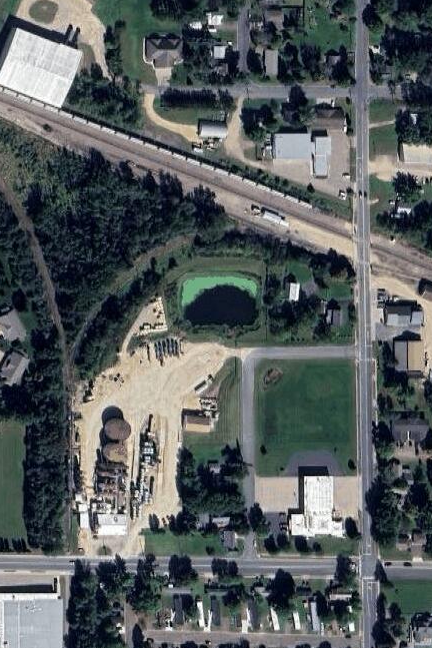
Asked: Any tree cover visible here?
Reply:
Yes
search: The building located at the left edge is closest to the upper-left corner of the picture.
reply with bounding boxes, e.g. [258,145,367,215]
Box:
[0,28,81,108]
